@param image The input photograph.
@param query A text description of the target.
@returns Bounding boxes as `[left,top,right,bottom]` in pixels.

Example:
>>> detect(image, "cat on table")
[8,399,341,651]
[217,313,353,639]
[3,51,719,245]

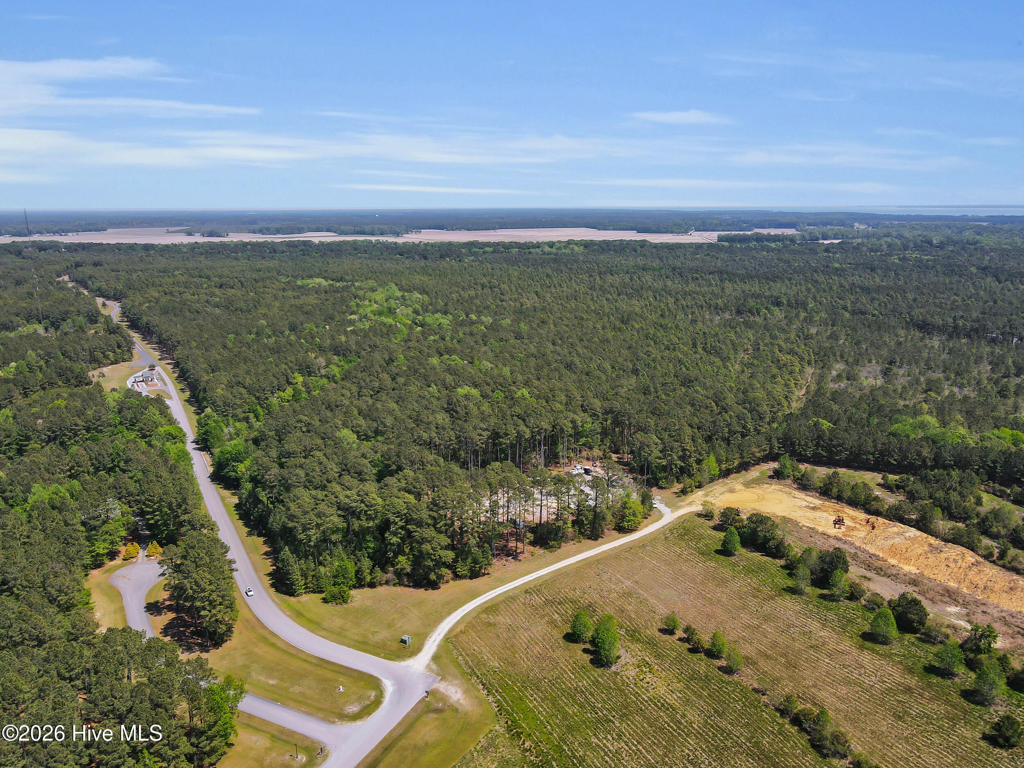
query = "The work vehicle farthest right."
[832,516,847,530]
